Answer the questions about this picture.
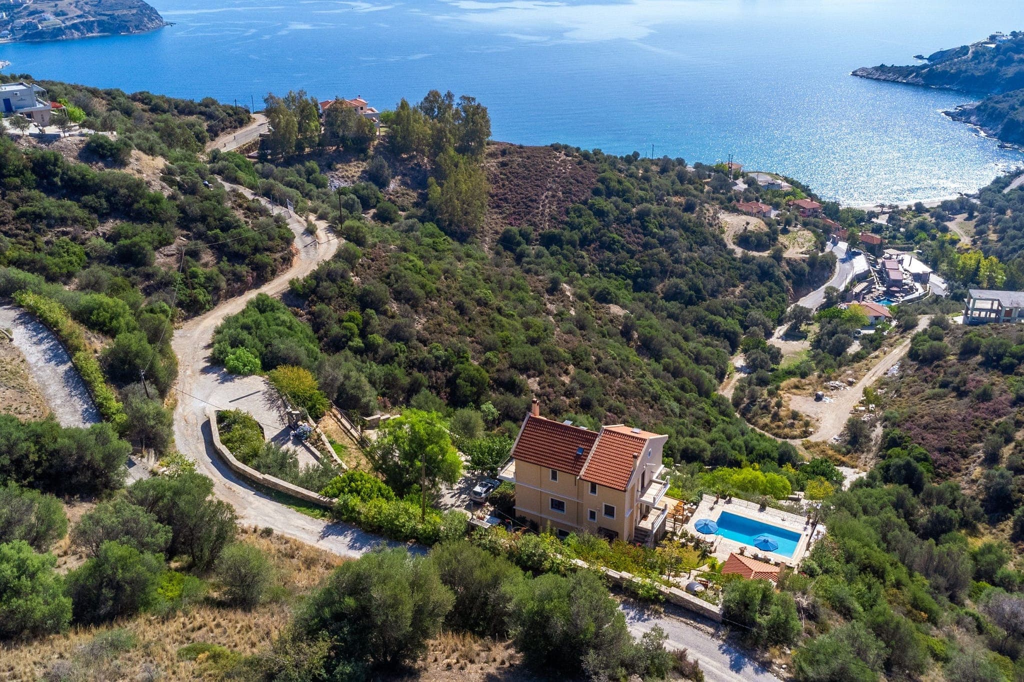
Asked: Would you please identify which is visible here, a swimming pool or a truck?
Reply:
swimming pool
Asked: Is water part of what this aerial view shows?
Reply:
Yes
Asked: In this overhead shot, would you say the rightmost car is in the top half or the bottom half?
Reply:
bottom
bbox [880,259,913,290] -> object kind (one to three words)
building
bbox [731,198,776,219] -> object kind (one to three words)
house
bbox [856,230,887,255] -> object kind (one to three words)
house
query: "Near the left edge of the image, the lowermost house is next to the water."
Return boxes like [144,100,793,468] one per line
[0,87,62,126]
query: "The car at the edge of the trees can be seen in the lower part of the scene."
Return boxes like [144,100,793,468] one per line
[468,475,501,502]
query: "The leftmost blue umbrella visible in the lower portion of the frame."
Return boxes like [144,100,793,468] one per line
[694,517,718,536]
